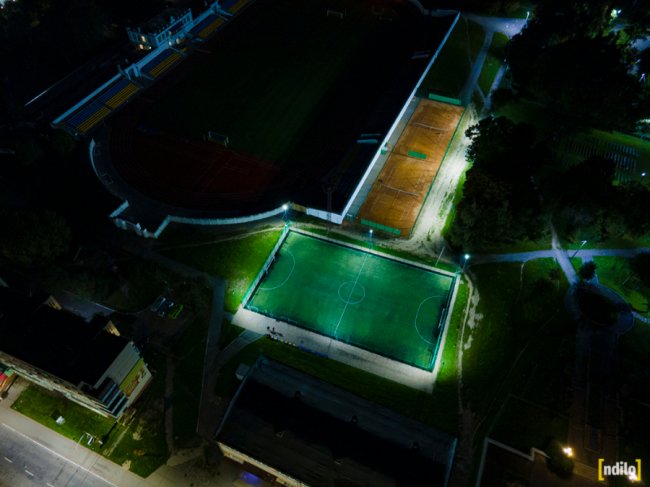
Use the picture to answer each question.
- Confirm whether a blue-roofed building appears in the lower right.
No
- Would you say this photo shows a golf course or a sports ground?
sports ground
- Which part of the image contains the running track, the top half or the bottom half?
top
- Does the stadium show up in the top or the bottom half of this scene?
top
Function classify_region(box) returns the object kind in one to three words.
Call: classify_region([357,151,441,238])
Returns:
tennis court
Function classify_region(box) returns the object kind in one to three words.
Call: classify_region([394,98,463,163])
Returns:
tennis court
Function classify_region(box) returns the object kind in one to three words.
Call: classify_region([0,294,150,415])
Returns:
building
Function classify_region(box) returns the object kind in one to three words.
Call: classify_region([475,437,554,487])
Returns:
building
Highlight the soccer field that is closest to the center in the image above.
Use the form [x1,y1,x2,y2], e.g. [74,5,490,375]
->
[245,230,456,370]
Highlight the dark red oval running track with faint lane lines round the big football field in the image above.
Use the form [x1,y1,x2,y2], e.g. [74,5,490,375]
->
[99,0,424,218]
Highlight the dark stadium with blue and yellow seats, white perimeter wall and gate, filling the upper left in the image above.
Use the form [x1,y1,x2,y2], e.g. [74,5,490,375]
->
[51,0,462,235]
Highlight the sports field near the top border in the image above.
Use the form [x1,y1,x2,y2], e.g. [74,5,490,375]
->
[133,4,404,170]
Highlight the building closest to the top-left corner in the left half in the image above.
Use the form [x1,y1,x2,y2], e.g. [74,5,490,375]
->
[128,8,193,53]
